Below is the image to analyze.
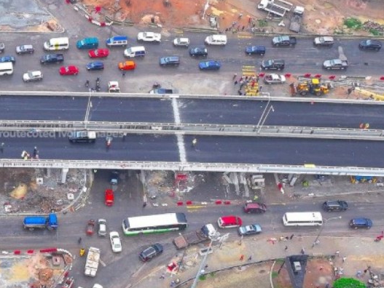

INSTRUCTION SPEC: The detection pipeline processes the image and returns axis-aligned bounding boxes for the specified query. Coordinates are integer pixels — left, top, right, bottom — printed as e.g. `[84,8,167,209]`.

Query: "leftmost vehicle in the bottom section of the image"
[21,213,59,231]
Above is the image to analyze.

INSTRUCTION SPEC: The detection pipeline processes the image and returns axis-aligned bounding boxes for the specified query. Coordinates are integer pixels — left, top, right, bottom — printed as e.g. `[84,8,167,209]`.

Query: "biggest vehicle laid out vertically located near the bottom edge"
[83,243,103,284]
